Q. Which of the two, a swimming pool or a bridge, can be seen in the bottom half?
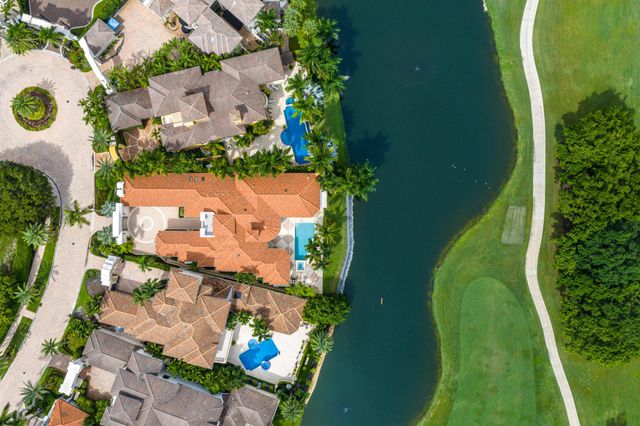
swimming pool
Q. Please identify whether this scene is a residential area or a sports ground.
residential area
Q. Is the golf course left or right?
right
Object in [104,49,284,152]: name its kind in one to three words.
house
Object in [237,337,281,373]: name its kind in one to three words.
swimming pool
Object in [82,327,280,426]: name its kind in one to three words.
house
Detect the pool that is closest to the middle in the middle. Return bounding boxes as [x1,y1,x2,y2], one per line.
[291,220,319,263]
